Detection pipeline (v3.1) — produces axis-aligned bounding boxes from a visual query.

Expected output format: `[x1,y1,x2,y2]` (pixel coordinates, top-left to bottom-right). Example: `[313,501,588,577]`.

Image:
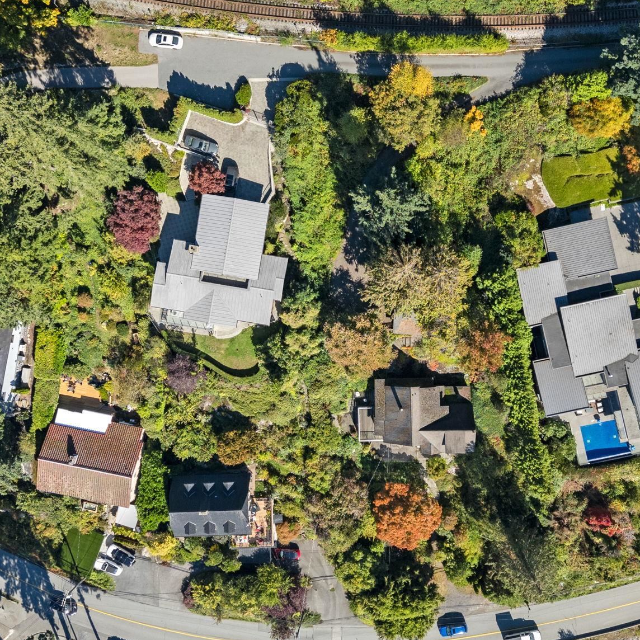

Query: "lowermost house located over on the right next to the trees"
[375,377,476,455]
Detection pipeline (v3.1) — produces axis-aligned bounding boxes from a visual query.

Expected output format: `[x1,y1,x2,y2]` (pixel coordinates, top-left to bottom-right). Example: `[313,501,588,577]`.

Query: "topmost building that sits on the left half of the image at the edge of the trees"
[151,194,289,329]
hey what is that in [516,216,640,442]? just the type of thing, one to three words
house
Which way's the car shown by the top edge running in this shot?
from left to right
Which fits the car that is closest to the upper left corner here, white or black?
white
